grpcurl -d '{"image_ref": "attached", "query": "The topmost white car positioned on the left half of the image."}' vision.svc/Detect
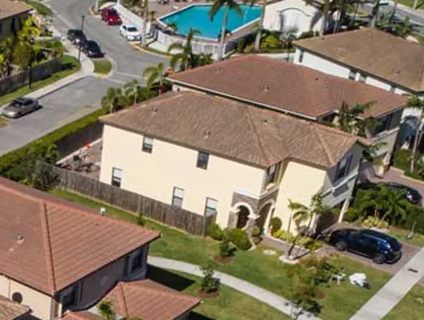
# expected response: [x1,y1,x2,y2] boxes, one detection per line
[118,22,139,38]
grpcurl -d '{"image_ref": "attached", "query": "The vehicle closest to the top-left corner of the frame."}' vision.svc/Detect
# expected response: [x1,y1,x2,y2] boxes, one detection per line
[65,23,86,43]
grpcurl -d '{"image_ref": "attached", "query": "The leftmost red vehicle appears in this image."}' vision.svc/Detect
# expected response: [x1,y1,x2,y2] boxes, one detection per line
[101,8,120,22]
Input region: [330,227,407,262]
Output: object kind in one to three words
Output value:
car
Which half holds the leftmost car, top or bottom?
top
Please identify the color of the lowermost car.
black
